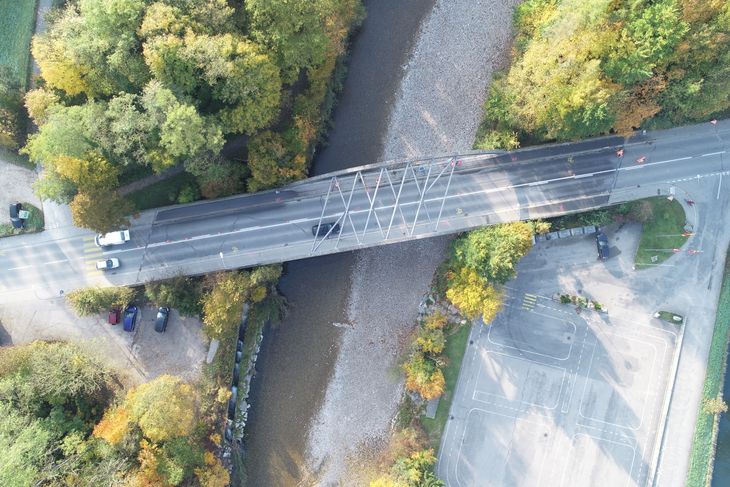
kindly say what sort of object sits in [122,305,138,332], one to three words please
car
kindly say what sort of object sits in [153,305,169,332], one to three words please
car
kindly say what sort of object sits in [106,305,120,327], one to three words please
vehicle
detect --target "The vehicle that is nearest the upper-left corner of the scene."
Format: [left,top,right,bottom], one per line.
[9,201,26,227]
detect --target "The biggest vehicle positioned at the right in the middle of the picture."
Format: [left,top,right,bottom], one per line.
[595,233,610,261]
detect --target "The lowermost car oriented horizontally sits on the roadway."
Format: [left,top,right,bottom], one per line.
[95,258,120,270]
